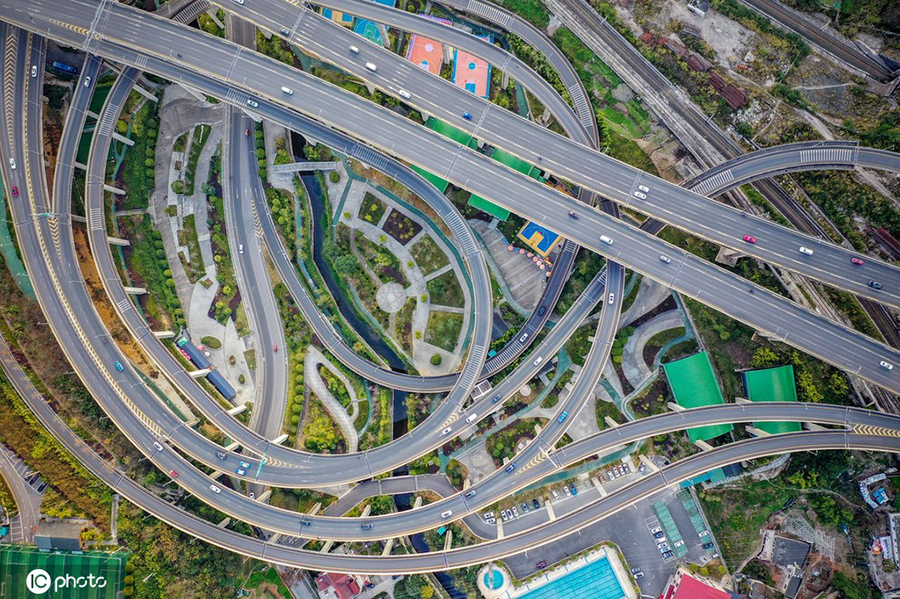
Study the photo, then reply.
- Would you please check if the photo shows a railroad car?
Yes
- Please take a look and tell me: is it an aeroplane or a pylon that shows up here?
pylon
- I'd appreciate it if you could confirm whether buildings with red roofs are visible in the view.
Yes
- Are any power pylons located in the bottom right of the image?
Yes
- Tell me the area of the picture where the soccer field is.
bottom left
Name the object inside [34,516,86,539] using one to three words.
building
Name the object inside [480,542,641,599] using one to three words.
swimming pool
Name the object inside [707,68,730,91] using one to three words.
rail car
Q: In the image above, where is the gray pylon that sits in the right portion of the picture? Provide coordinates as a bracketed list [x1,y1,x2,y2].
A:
[780,515,845,567]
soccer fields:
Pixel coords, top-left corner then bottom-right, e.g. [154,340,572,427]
[0,544,128,599]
